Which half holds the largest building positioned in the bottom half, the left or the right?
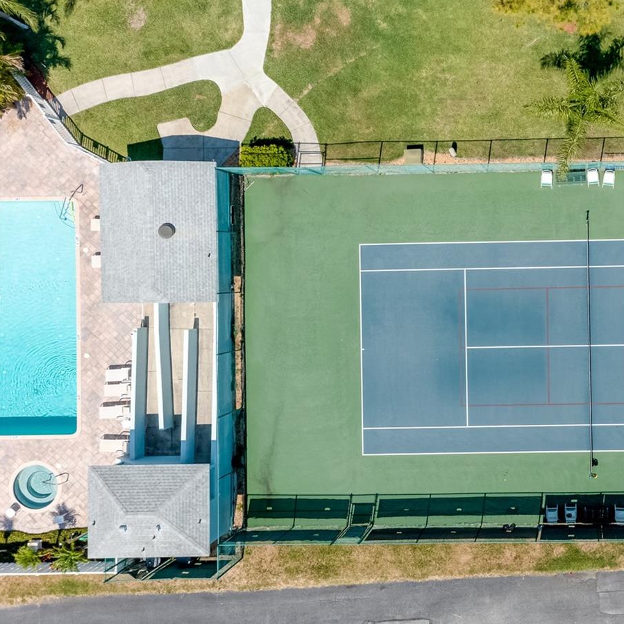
left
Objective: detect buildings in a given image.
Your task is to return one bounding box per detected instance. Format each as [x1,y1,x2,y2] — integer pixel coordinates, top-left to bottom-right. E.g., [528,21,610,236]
[88,458,218,559]
[99,160,232,303]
